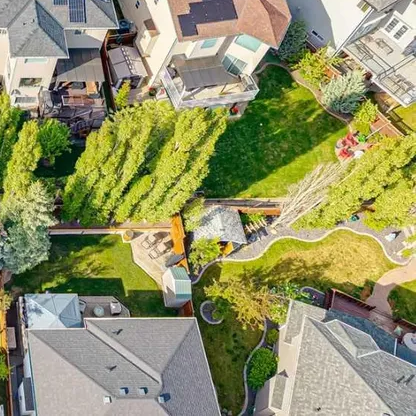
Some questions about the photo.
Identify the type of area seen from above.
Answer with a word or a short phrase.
residential area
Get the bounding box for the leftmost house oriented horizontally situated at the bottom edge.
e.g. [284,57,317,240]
[22,317,230,416]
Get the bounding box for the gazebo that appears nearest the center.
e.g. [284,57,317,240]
[187,200,250,251]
